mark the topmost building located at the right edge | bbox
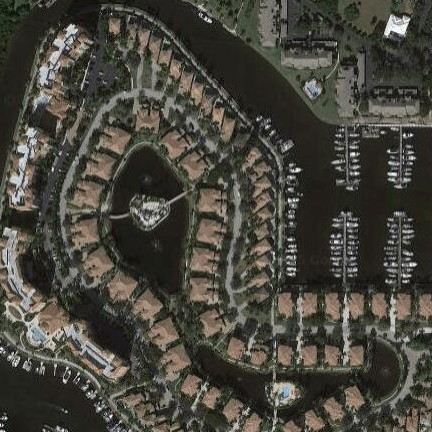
[384,14,410,38]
